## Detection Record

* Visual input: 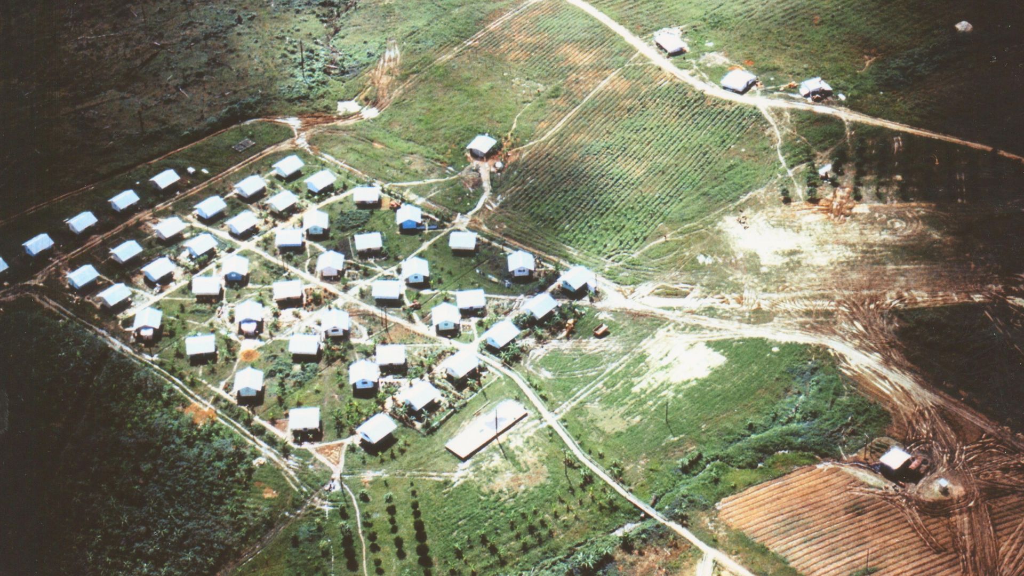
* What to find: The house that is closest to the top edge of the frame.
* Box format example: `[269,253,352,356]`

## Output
[653,30,687,59]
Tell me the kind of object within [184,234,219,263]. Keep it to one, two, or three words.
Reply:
house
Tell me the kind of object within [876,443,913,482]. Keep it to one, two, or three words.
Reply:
shed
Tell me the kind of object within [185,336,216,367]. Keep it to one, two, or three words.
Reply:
house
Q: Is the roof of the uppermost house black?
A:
No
